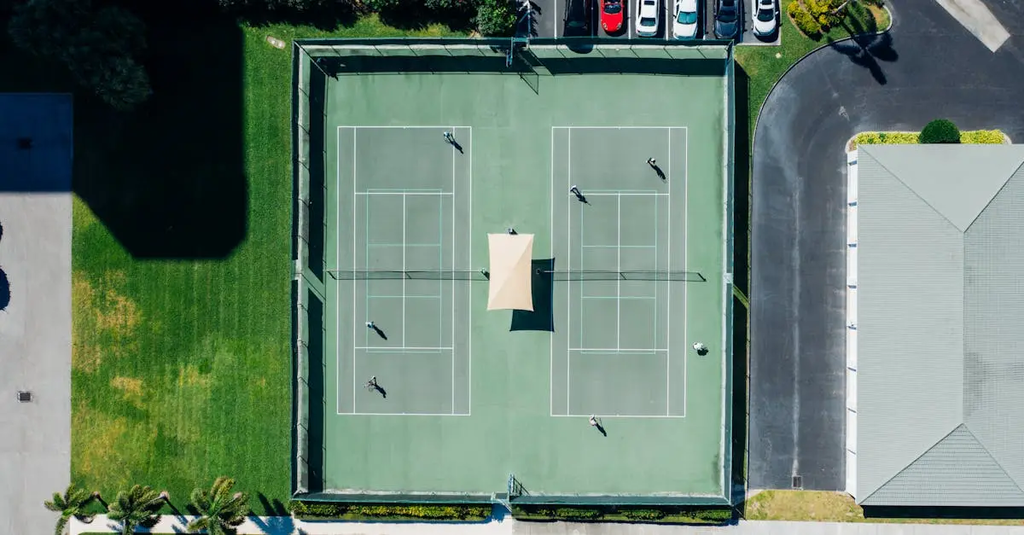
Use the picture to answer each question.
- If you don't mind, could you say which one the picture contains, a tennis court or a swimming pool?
tennis court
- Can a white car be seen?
Yes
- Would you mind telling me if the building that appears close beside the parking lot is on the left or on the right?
right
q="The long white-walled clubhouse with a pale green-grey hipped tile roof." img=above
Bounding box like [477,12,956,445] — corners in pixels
[846,144,1024,505]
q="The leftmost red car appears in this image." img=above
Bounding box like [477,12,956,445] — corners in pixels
[599,0,627,34]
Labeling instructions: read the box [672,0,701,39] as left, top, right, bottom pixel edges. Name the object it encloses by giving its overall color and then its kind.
white car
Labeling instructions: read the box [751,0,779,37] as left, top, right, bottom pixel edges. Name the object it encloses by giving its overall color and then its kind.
white car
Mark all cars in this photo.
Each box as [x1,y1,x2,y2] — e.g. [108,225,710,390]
[672,0,701,39]
[562,0,591,41]
[599,0,627,34]
[635,0,659,38]
[714,0,742,39]
[751,0,779,37]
